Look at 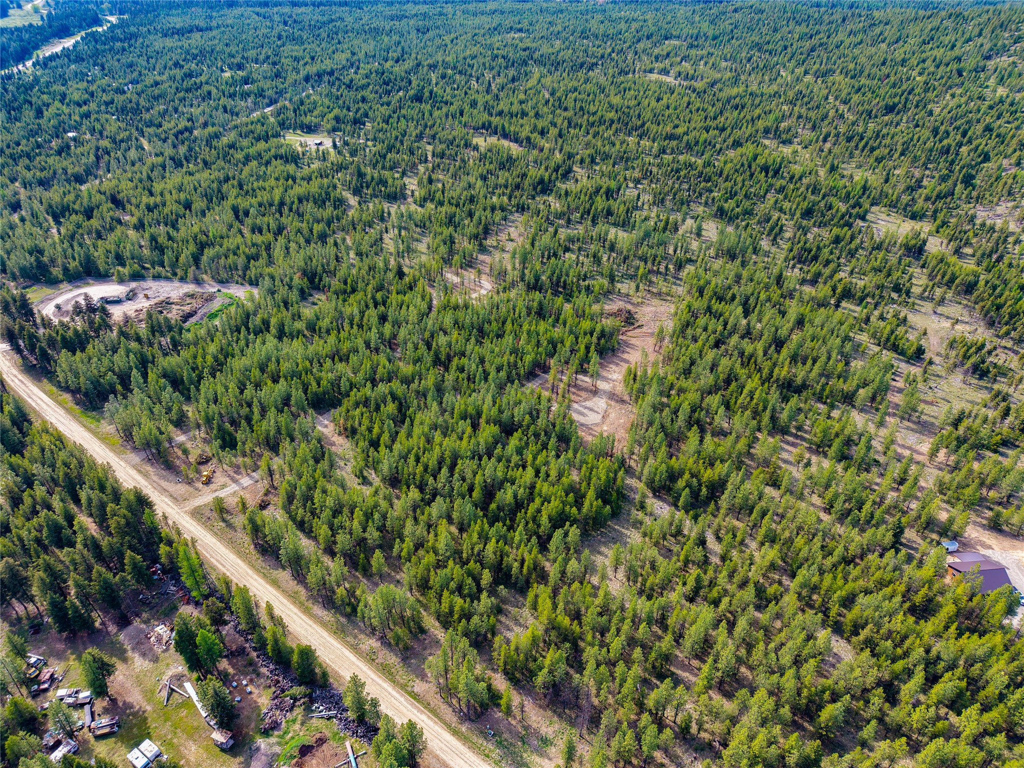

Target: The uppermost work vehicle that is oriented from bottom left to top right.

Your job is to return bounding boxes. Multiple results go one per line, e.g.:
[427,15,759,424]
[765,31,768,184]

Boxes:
[198,465,222,489]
